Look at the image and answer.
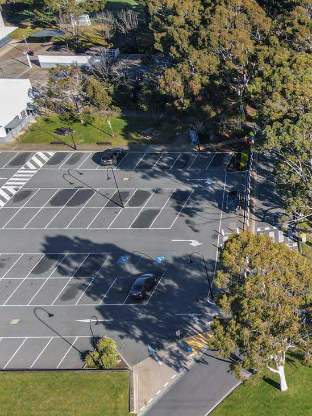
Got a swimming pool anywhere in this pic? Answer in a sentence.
No, there isn't any swimming pool down there.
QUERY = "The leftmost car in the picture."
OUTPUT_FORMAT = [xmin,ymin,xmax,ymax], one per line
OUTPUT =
[100,146,126,164]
